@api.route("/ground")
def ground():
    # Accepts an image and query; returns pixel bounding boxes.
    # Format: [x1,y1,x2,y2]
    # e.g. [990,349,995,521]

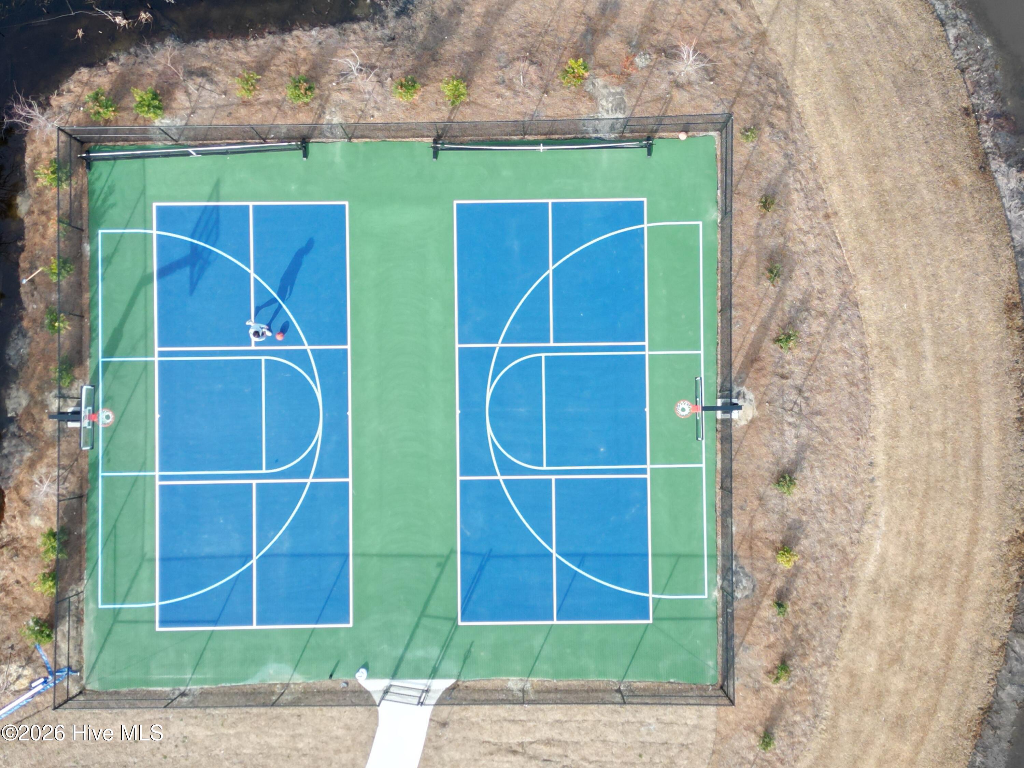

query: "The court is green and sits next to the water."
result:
[84,136,718,690]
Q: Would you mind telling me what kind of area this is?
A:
sports ground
